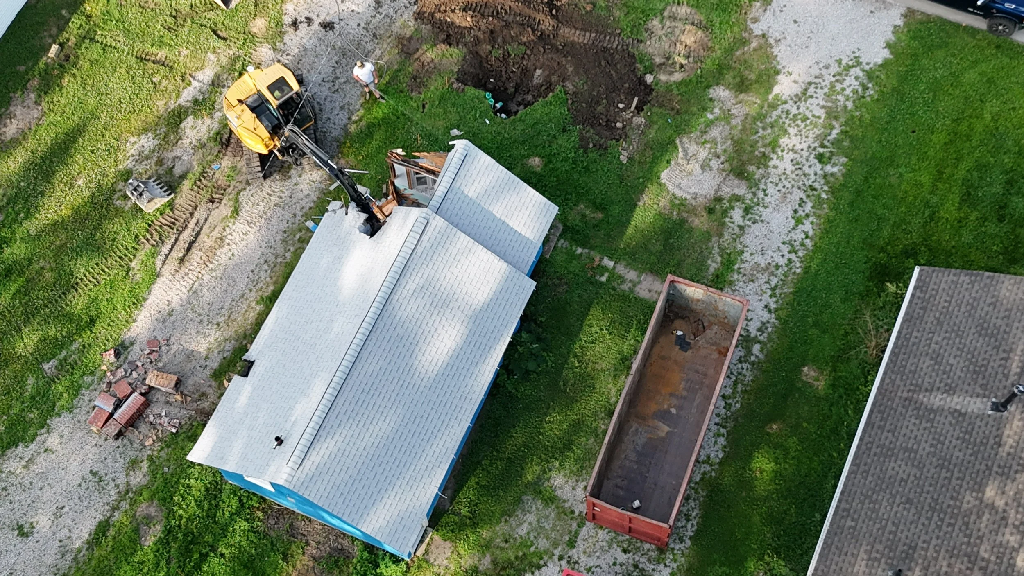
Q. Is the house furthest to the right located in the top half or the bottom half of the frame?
bottom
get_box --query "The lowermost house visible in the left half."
[187,139,561,561]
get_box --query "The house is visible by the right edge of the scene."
[803,264,1024,576]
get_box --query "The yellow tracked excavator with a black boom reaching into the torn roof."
[225,63,383,238]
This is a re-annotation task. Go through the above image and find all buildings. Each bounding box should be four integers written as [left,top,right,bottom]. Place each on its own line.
[803,264,1024,576]
[0,0,32,41]
[187,139,561,561]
